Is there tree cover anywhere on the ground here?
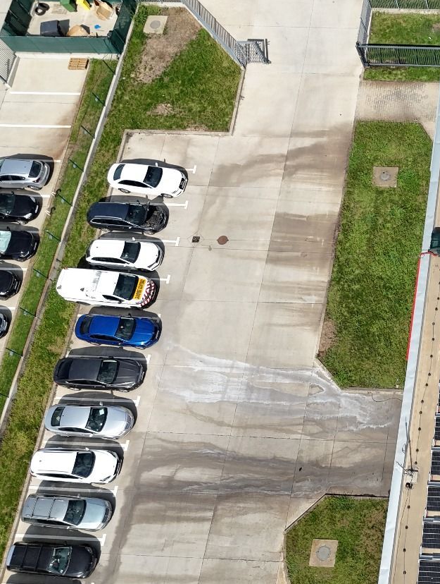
No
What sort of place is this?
parking lot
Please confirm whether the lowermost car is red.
No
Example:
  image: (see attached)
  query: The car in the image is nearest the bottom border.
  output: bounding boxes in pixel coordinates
[7,538,101,584]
